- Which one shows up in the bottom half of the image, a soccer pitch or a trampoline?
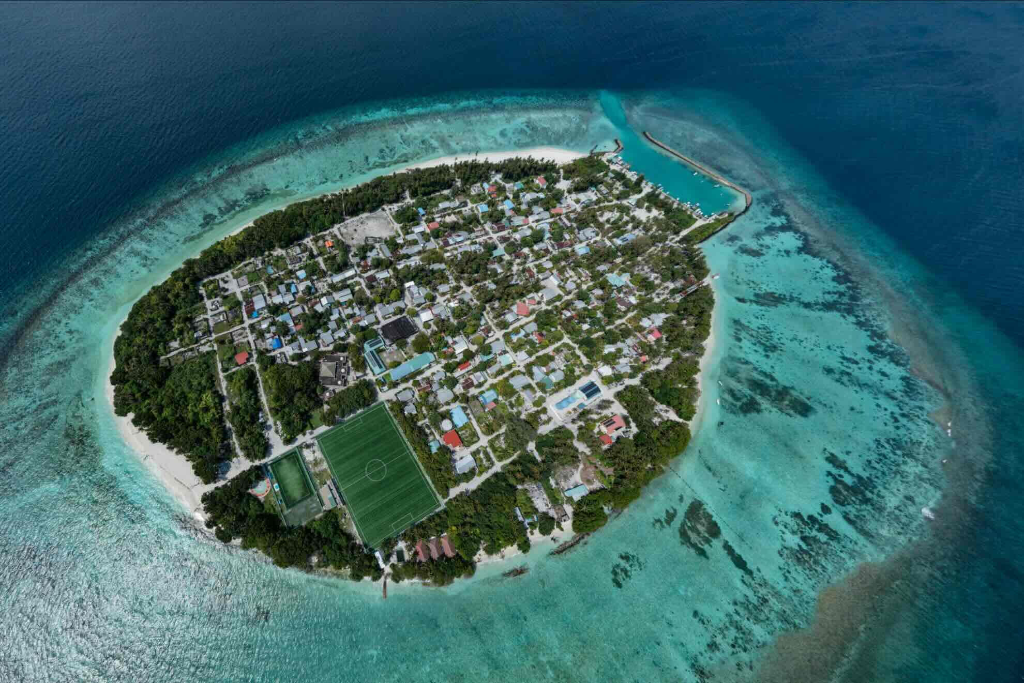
soccer pitch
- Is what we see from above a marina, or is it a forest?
marina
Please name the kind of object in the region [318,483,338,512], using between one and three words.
building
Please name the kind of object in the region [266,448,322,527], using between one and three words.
sports court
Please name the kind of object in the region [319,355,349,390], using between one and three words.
building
